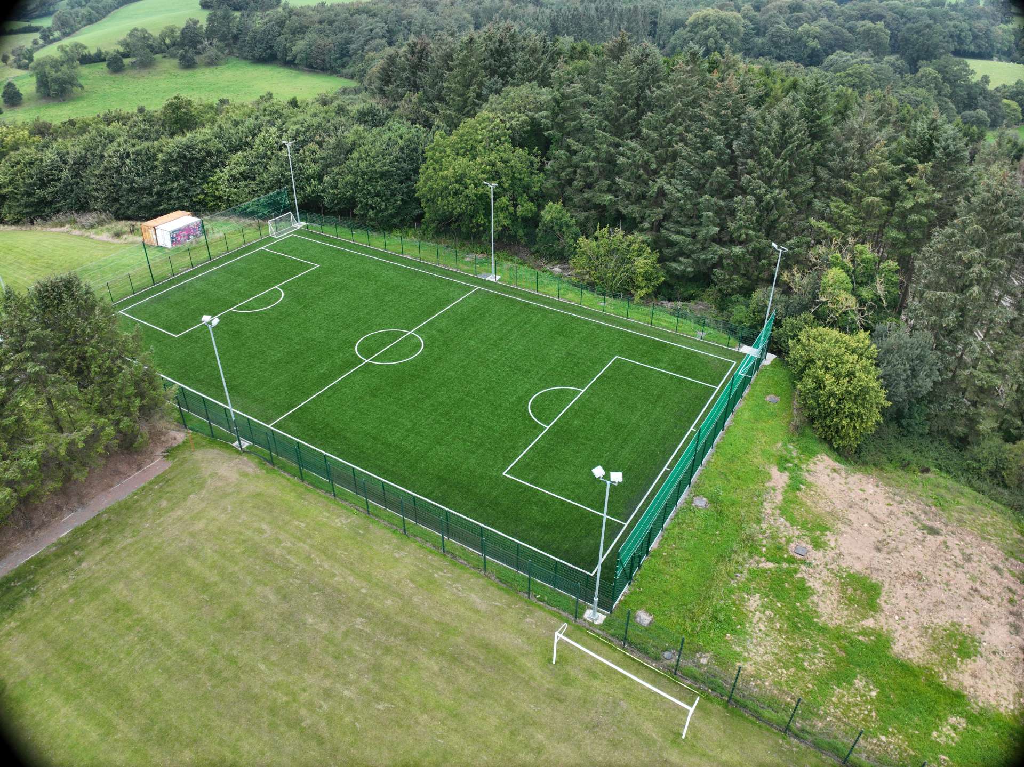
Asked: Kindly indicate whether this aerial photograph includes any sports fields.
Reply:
Yes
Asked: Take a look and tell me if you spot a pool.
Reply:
No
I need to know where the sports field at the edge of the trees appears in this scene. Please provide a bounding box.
[102,225,765,616]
